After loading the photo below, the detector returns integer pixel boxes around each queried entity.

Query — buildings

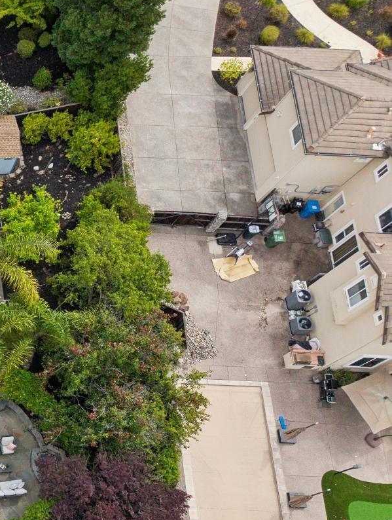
[235,45,392,371]
[0,116,26,178]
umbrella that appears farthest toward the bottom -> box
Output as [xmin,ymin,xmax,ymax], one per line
[285,491,326,507]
